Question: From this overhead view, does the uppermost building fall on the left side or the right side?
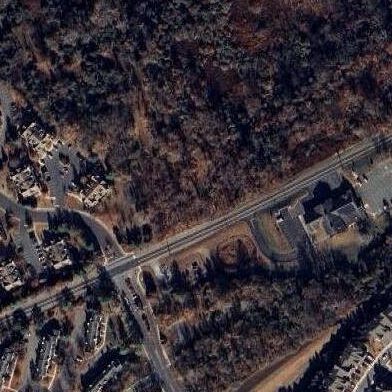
left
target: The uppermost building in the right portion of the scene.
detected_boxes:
[309,201,363,244]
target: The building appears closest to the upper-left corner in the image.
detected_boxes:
[18,117,54,154]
